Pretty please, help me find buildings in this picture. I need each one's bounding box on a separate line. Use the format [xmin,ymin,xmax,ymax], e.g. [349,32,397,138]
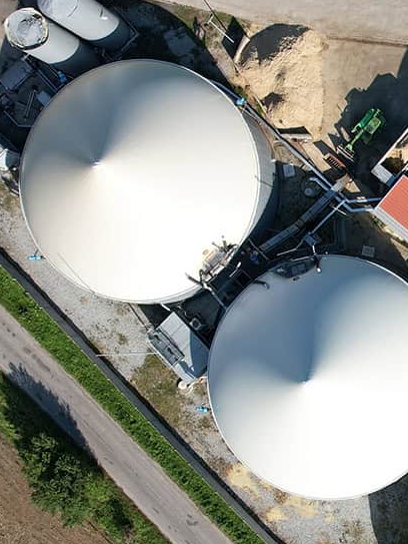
[156,312,214,390]
[367,172,408,251]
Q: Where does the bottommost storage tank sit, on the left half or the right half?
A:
right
